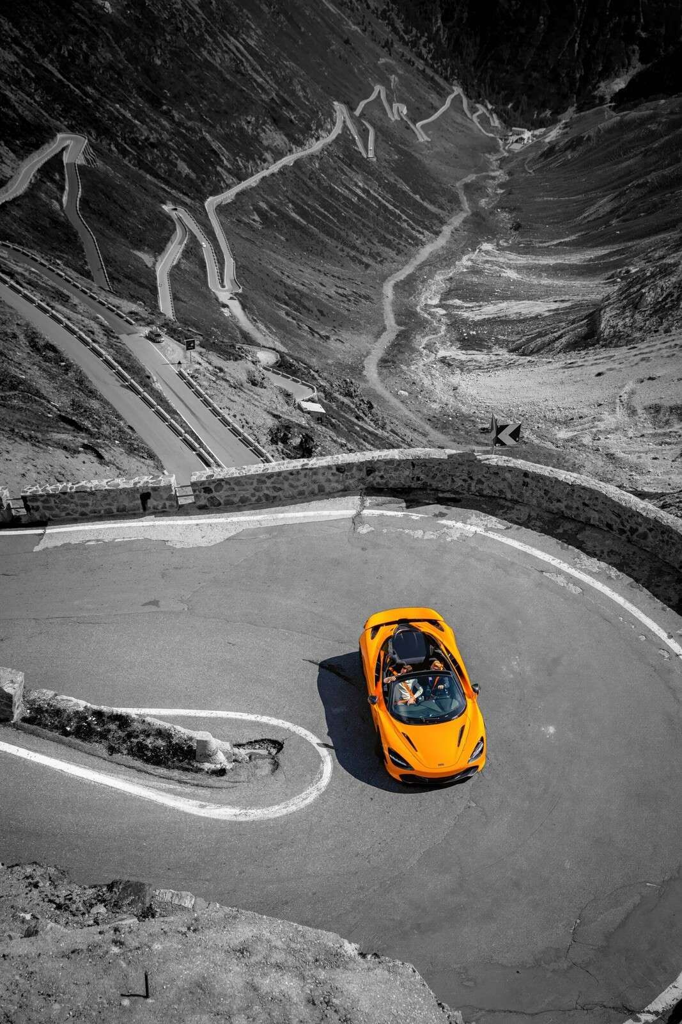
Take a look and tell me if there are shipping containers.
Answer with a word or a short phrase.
No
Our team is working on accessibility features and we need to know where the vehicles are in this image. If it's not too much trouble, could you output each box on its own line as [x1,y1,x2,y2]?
[144,329,164,344]
[361,607,485,785]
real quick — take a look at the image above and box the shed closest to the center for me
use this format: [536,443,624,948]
[300,396,329,420]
